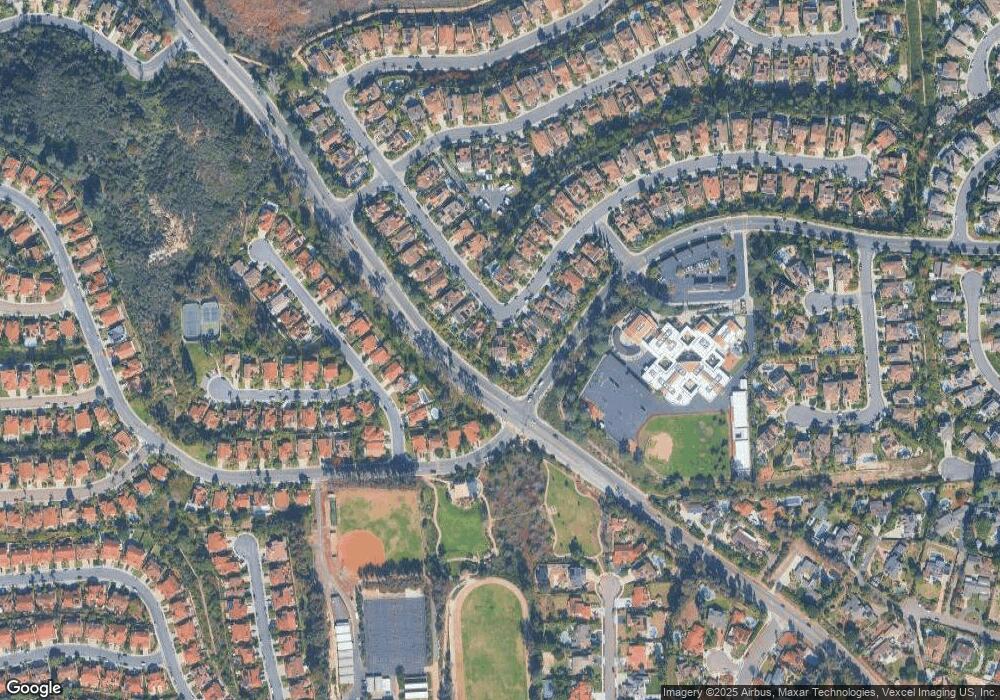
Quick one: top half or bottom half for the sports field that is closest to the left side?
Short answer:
bottom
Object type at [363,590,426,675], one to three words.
sports court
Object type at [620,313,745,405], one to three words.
building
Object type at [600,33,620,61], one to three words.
house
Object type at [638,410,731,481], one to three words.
sports field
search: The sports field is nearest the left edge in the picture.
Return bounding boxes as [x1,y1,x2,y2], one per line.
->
[322,487,421,592]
